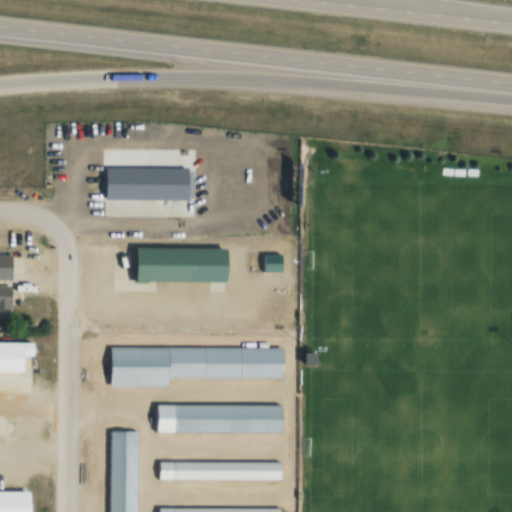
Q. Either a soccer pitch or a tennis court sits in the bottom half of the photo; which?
soccer pitch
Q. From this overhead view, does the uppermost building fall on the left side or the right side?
left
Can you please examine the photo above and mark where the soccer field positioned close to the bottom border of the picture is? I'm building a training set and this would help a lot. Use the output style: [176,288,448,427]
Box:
[308,368,512,512]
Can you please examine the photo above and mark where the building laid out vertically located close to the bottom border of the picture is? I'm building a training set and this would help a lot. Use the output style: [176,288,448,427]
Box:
[111,431,140,512]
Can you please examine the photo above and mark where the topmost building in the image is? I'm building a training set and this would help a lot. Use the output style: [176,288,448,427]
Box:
[107,168,190,200]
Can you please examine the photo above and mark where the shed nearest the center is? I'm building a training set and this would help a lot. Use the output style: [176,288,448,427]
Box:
[264,254,284,272]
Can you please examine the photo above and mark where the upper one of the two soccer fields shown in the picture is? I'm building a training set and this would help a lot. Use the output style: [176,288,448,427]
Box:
[308,181,512,341]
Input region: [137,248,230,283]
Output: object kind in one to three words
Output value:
building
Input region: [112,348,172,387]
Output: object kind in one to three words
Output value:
building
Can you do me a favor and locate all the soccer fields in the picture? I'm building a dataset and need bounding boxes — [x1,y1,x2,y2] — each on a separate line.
[308,181,512,341]
[308,368,512,512]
